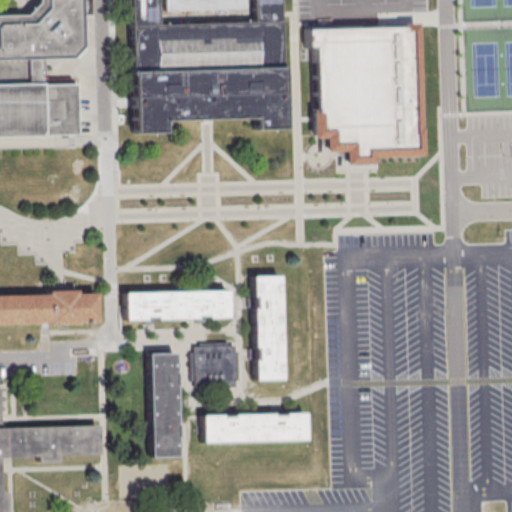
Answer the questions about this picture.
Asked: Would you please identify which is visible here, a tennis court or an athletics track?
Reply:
tennis court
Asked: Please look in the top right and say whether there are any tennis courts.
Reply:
Yes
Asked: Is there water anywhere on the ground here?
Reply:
No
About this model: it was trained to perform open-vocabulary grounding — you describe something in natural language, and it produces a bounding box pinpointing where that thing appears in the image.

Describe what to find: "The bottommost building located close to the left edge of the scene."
[0,426,102,512]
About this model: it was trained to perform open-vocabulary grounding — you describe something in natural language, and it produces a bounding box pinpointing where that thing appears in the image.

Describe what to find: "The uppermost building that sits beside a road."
[0,0,86,60]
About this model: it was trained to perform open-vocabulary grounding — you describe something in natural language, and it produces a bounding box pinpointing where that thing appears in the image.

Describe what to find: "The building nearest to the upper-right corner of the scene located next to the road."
[305,24,428,165]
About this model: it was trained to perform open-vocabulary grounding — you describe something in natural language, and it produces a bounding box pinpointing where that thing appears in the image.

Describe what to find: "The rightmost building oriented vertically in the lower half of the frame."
[251,274,288,382]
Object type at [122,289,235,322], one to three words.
building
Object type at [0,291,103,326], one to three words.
building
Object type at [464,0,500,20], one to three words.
tennis court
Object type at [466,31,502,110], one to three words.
tennis court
